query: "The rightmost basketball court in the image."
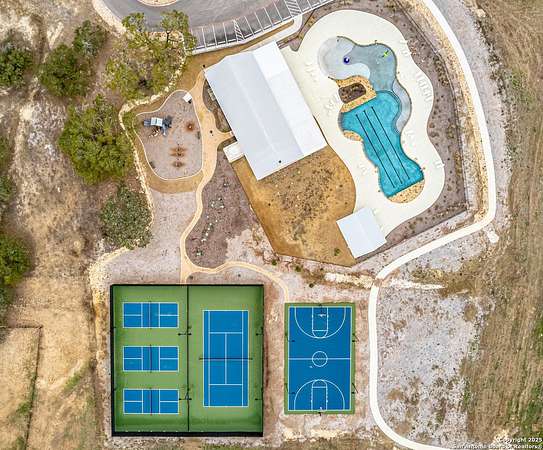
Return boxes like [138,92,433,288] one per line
[284,303,355,414]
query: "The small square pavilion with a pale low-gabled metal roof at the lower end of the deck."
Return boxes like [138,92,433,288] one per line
[336,205,388,258]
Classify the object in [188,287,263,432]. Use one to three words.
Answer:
tennis court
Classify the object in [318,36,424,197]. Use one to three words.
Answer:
swimming pool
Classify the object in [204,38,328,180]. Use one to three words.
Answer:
building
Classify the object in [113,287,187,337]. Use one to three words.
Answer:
sports court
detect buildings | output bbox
[204,38,328,180]
[336,205,388,258]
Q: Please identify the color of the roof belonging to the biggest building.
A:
white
